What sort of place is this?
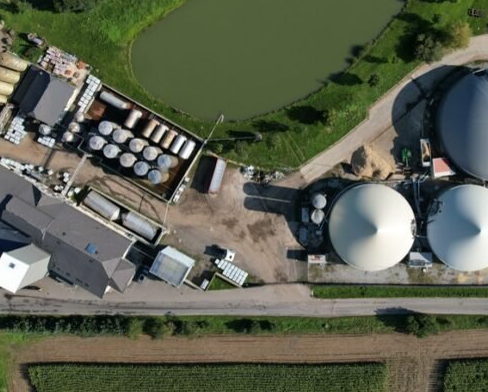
industrial area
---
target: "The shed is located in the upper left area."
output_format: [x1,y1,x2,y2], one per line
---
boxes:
[21,66,81,127]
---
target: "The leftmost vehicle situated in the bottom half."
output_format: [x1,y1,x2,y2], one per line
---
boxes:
[135,269,150,284]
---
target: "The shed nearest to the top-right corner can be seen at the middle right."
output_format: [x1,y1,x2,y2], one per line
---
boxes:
[431,157,452,178]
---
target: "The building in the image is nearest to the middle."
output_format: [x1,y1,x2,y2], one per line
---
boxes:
[150,245,194,287]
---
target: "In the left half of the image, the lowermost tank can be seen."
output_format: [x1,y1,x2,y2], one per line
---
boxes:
[122,210,158,240]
